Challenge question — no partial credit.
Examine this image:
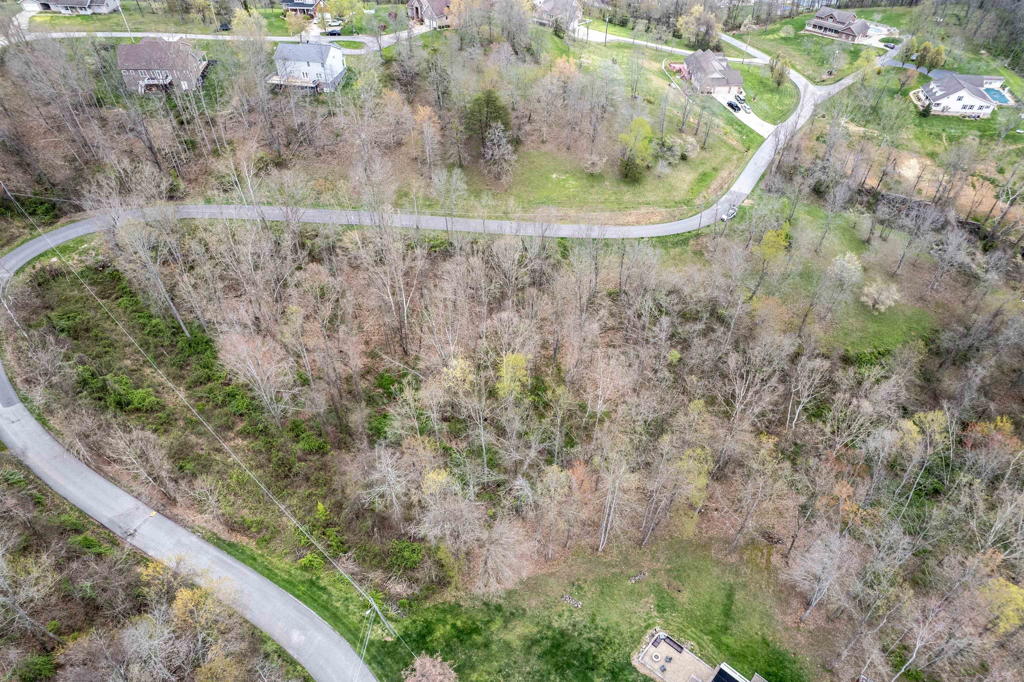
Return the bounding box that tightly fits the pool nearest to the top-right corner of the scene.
[991,92,1015,107]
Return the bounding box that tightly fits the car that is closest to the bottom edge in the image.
[721,204,738,220]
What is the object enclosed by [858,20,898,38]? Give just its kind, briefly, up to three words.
swimming pool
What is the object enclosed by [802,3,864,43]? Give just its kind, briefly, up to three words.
house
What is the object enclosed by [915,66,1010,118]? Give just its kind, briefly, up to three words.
house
